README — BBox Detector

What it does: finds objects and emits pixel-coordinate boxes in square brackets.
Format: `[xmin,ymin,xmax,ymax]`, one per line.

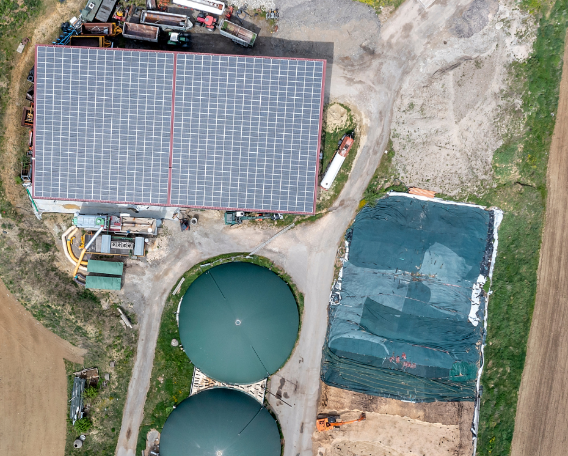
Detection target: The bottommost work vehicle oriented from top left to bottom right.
[173,213,191,233]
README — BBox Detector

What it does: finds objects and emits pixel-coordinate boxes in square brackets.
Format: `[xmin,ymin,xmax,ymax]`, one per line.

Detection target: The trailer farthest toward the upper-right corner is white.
[320,133,352,188]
